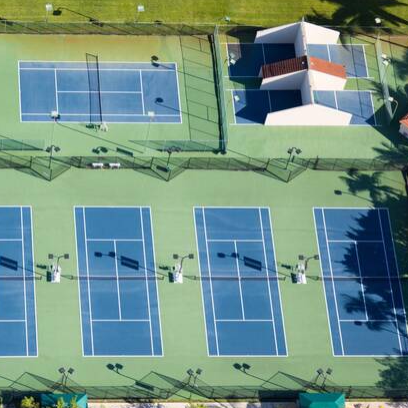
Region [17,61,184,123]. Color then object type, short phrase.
blue tennis court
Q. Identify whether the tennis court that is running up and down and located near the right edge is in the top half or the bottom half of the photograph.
bottom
